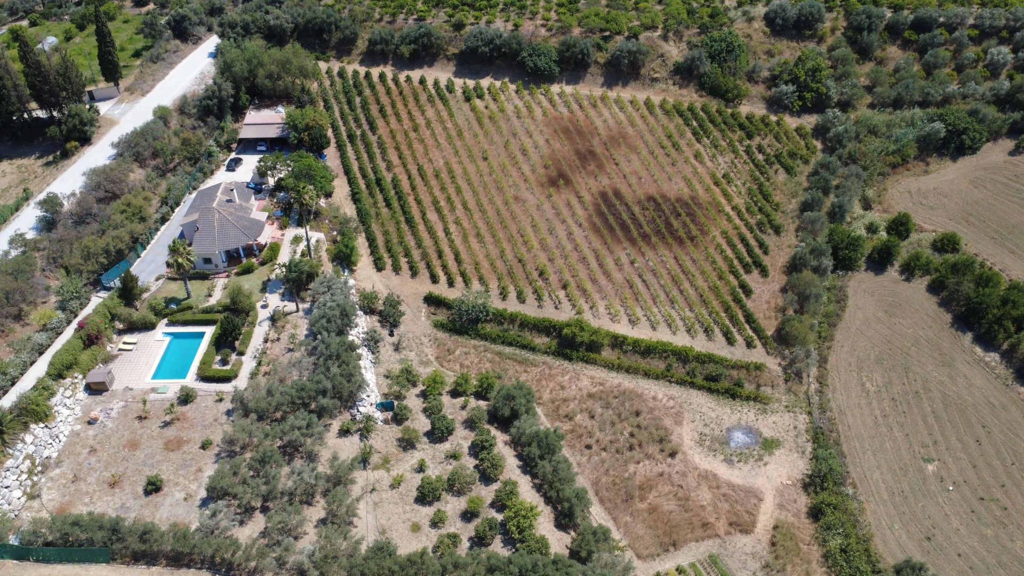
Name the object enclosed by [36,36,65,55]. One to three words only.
greenhouse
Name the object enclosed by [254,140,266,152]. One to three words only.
vehicle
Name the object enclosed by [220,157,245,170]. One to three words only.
vehicle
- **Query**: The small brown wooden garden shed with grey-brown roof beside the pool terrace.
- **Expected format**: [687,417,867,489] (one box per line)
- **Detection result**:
[84,368,118,393]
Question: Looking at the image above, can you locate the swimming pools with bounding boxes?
[146,328,212,383]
